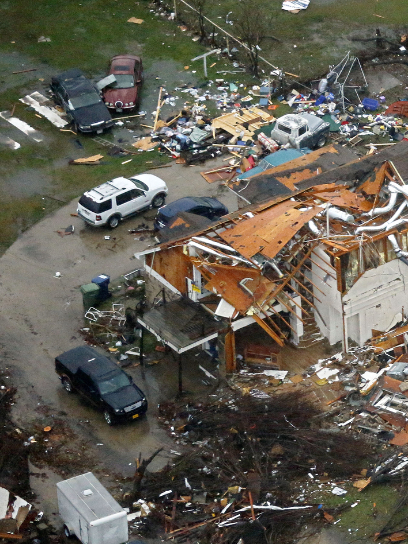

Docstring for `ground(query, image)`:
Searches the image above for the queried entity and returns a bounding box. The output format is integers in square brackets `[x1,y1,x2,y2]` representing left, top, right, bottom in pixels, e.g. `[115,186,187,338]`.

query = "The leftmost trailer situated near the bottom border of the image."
[56,471,130,544]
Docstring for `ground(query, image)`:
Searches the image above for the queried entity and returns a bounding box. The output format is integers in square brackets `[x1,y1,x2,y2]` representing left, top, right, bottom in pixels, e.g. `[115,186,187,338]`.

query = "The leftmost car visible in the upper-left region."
[49,67,114,132]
